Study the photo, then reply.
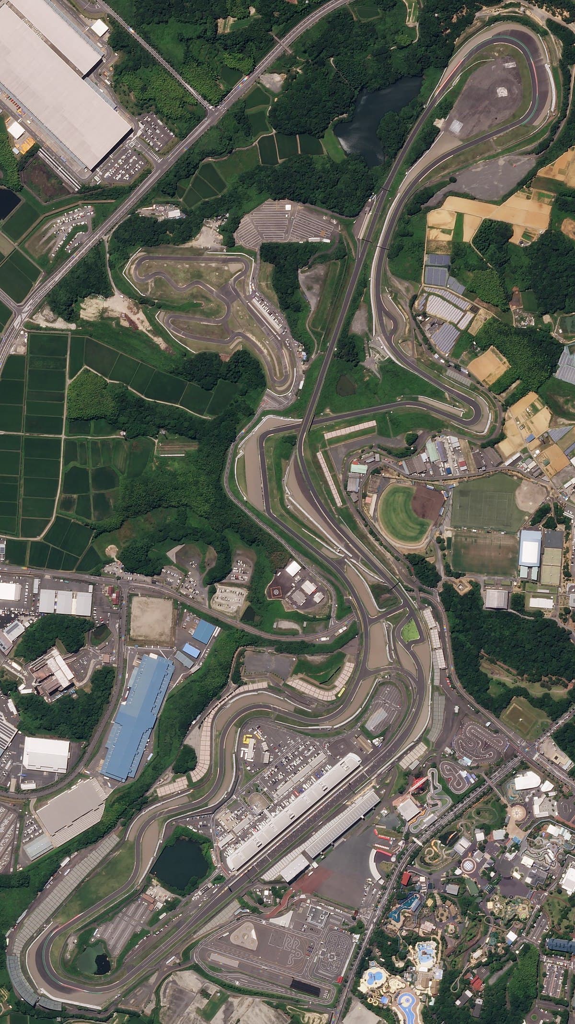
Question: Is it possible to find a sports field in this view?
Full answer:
Yes, there's a sports field here.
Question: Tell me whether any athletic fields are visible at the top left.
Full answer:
No, the scene shows no athletic field at the top left.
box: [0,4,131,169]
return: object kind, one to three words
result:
warehouse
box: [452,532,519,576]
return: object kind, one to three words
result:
sports field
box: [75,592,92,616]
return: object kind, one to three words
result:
building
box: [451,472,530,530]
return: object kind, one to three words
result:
sports field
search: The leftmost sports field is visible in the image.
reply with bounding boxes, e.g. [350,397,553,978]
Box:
[129,596,172,642]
